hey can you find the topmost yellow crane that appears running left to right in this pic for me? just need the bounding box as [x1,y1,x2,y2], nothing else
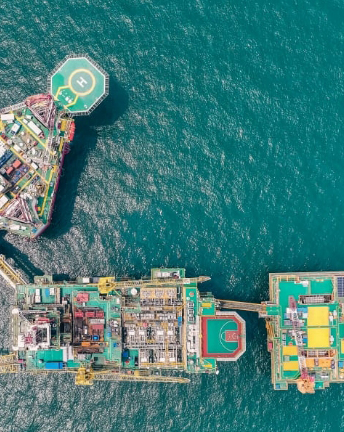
[95,276,211,292]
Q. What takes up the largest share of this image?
water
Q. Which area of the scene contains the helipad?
top left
